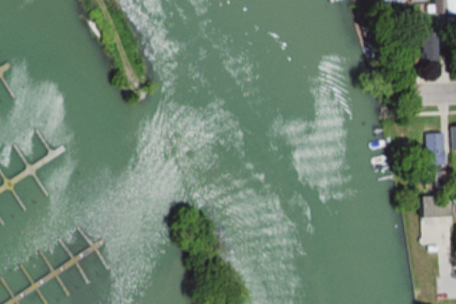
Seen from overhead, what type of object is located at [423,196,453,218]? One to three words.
building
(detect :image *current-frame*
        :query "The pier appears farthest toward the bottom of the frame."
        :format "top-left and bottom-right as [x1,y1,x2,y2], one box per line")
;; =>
[0,227,110,304]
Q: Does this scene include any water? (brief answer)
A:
Yes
